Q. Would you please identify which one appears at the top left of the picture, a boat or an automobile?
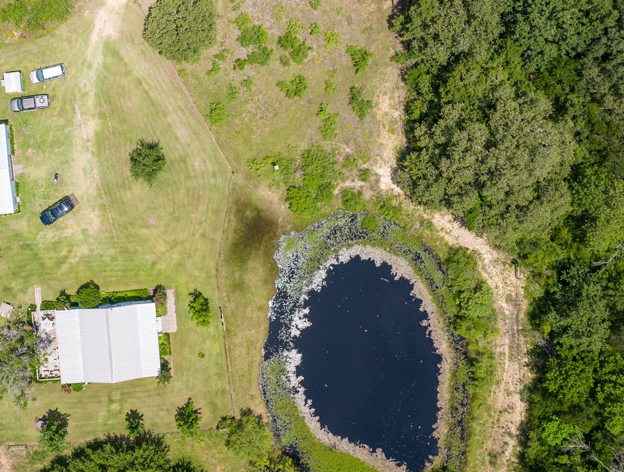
automobile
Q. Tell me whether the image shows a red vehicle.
No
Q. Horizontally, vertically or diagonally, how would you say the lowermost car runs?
diagonally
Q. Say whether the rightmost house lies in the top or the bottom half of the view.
bottom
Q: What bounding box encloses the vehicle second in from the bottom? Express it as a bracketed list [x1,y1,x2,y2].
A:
[9,95,52,113]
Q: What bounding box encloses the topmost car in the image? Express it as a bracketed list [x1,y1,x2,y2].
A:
[30,65,68,83]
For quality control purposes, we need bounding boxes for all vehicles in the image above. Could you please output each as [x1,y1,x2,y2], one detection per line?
[41,193,81,226]
[9,95,52,113]
[30,65,68,83]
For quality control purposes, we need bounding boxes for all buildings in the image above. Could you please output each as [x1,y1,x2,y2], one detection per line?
[54,302,160,384]
[3,72,25,94]
[0,124,17,215]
